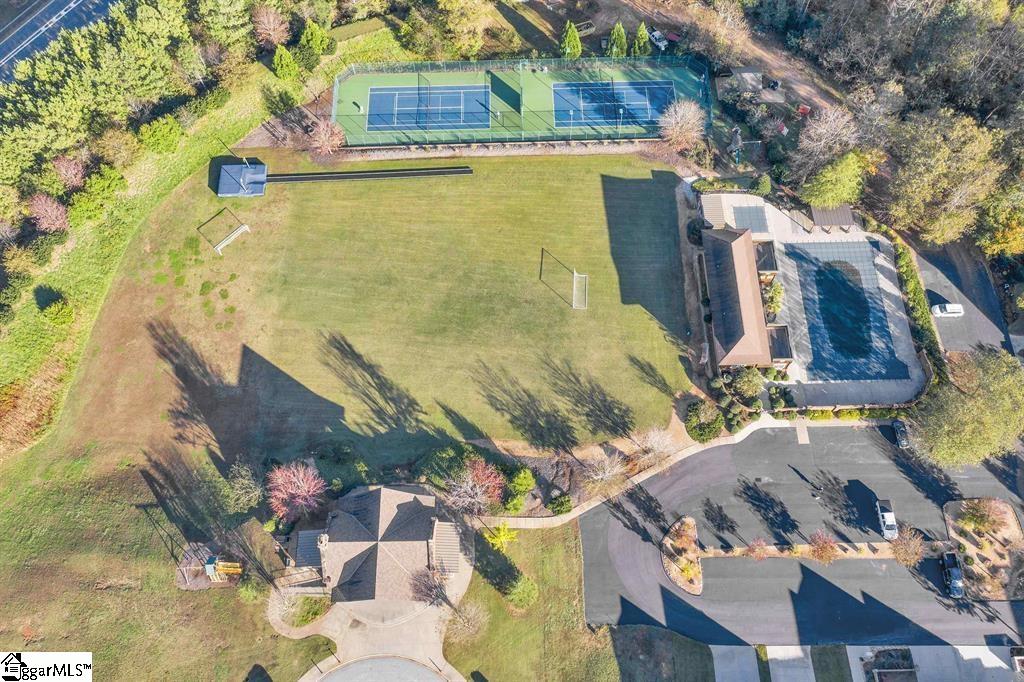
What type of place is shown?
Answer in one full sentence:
The area seen from above is a sports ground.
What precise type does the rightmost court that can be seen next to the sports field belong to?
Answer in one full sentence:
The rightmost court that can be seen next to the sports field is a tennis court.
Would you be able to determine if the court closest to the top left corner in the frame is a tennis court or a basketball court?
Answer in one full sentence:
It looks like the court closest to the top left corner is a tennis court.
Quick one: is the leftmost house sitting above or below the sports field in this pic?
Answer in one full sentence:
The leftmost house is below the sports field.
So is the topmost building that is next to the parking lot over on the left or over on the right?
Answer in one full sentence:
The topmost building that is next to the parking lot sits on the right side.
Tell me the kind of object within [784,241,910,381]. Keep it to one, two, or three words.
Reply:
swimming pool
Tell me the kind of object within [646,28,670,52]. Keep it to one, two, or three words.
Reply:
truck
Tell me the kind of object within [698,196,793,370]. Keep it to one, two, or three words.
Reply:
building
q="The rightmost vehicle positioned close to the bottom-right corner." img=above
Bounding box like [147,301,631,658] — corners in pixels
[943,554,968,600]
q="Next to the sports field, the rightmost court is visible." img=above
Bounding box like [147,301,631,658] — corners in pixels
[522,67,712,141]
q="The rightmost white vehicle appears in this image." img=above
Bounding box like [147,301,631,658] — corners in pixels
[929,302,970,318]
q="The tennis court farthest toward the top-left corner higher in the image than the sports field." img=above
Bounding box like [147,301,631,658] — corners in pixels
[332,71,522,147]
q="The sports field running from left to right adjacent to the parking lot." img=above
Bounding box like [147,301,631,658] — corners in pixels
[62,148,691,448]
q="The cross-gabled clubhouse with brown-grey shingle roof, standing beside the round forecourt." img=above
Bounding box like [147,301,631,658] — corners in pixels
[288,483,461,607]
